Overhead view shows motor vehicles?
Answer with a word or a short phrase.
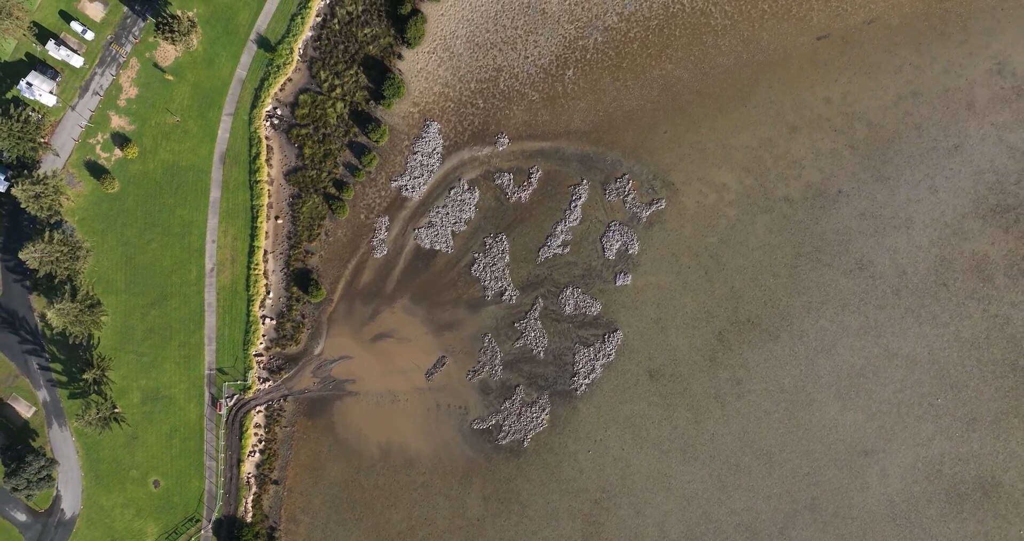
Yes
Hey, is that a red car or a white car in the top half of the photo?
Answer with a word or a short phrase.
white car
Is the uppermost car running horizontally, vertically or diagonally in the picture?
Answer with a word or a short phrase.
diagonally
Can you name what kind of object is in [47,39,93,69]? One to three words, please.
camper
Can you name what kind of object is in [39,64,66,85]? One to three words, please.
car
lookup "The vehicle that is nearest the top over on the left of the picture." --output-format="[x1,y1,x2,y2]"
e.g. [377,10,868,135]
[71,20,97,42]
